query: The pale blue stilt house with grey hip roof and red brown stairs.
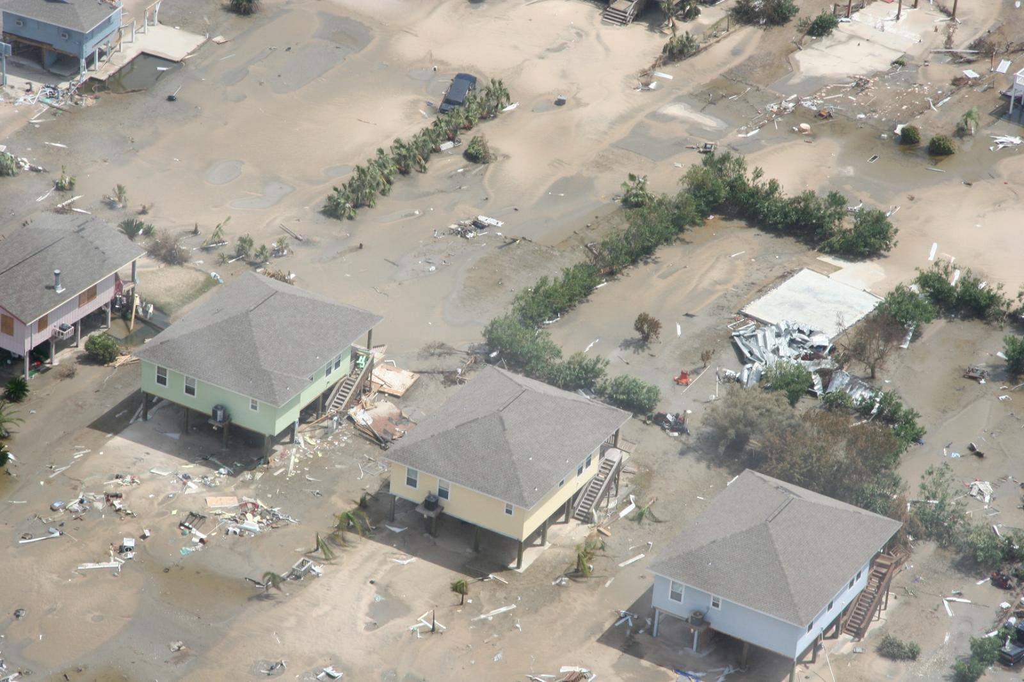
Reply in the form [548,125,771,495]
[645,469,905,682]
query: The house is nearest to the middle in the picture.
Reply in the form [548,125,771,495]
[383,365,635,570]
